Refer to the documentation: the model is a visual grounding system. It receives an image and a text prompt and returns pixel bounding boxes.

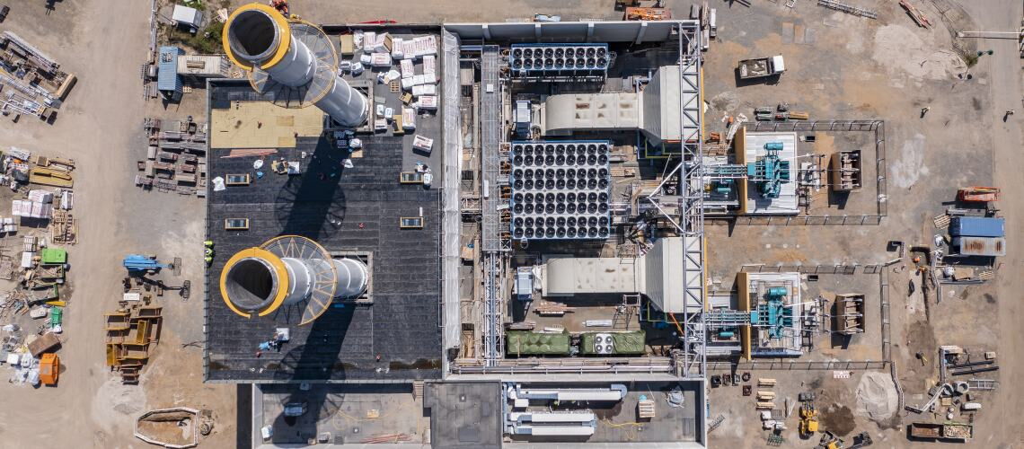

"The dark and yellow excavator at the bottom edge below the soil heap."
[815,425,846,449]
